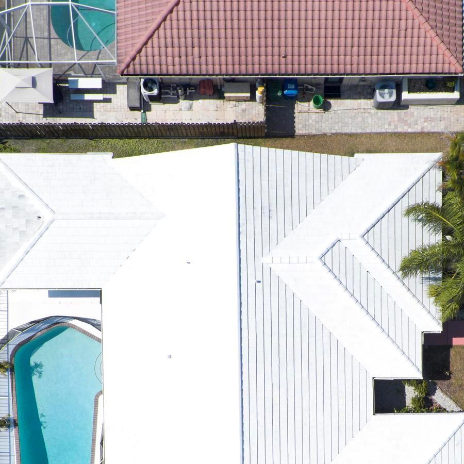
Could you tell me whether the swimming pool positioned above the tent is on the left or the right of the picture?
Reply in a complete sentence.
The swimming pool positioned above the tent sits on the left side.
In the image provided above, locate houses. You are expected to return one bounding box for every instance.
[114,0,464,86]
[0,141,464,464]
